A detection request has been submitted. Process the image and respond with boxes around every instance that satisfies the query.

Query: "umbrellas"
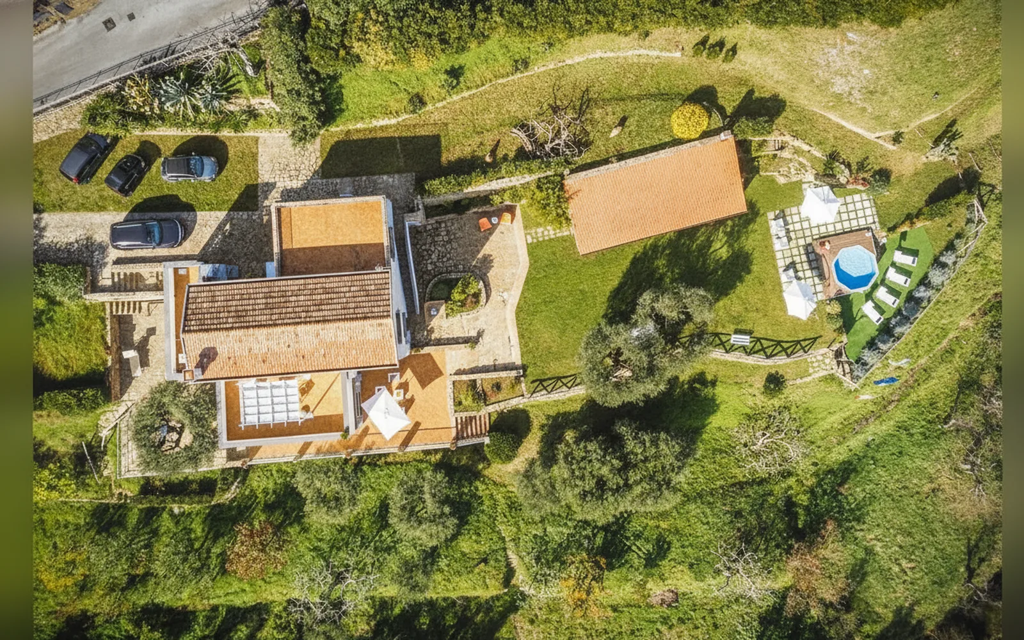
[777,279,814,318]
[366,390,411,436]
[796,186,837,223]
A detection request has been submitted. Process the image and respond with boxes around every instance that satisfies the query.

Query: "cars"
[57,129,120,192]
[110,218,187,252]
[160,152,223,184]
[104,149,155,201]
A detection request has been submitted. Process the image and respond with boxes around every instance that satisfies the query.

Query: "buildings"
[561,130,749,256]
[163,192,411,448]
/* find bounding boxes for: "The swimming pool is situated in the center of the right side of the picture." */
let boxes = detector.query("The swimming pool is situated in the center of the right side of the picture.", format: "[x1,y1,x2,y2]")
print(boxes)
[832,245,880,296]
